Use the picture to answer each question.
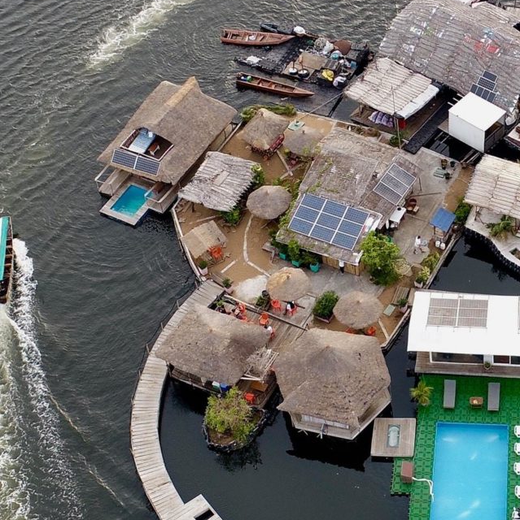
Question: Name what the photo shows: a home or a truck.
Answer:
home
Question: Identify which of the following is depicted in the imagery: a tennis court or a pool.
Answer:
pool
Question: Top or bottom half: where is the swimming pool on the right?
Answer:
bottom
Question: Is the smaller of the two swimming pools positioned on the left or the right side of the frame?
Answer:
left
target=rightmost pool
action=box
[430,422,510,520]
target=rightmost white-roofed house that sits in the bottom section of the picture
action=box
[407,292,520,379]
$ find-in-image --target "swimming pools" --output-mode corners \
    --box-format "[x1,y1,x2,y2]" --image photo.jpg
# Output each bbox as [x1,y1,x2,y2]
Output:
[110,185,154,219]
[430,422,510,520]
